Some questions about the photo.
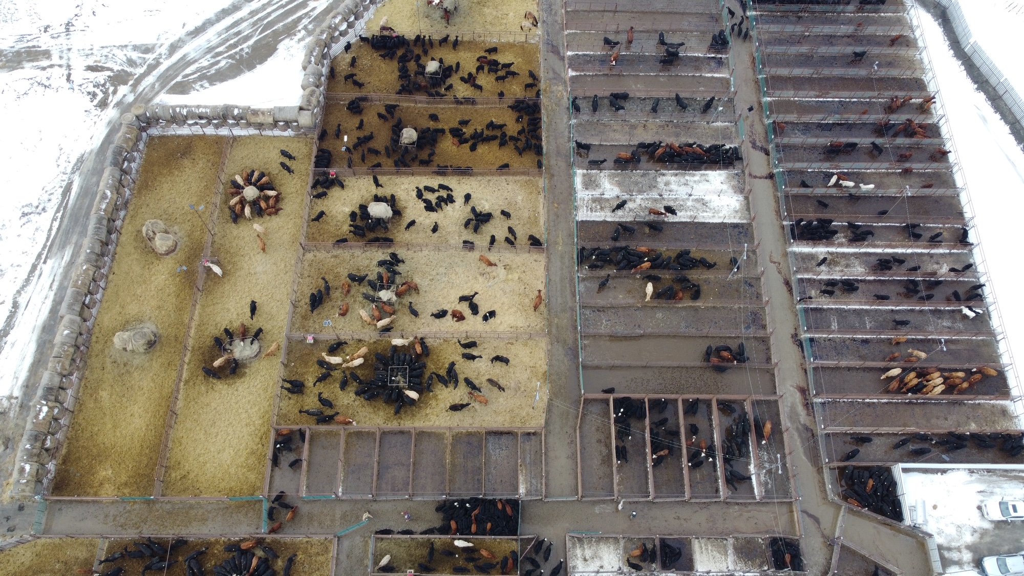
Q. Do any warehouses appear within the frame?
No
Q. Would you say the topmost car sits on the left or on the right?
right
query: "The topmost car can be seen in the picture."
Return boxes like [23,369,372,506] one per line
[977,497,1024,522]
